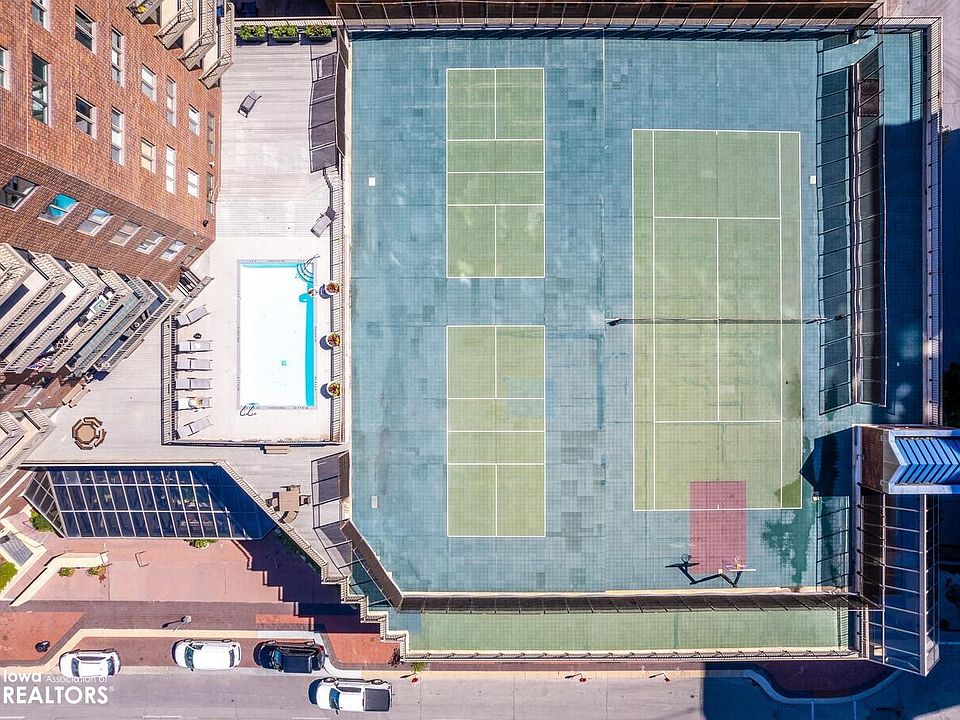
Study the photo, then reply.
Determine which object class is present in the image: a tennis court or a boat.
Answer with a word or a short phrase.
tennis court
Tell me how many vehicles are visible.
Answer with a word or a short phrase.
4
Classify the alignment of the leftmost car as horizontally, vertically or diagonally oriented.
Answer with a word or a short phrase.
horizontally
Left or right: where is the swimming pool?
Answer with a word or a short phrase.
left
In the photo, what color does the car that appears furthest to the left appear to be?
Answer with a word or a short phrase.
white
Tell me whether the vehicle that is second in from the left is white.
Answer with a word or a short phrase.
Yes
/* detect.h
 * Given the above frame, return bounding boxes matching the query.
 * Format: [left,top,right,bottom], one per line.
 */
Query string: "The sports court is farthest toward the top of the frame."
[446,68,546,278]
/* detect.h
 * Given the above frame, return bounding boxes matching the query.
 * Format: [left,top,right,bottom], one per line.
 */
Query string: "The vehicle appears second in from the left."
[175,638,243,673]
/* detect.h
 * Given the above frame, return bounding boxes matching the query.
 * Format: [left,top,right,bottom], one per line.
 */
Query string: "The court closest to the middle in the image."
[446,325,547,537]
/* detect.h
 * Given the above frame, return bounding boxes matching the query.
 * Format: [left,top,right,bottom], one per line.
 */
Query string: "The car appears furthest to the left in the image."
[60,649,124,682]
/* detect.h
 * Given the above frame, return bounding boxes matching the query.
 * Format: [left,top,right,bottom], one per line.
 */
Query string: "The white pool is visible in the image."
[238,256,319,415]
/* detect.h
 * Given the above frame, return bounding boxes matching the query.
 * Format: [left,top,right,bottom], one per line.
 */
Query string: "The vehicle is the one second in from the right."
[259,638,326,673]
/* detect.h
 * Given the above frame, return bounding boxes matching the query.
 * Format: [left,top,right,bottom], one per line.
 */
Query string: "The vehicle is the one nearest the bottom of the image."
[316,678,394,715]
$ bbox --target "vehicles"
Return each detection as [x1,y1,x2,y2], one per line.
[316,678,394,715]
[60,649,124,682]
[175,638,243,673]
[259,638,326,673]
